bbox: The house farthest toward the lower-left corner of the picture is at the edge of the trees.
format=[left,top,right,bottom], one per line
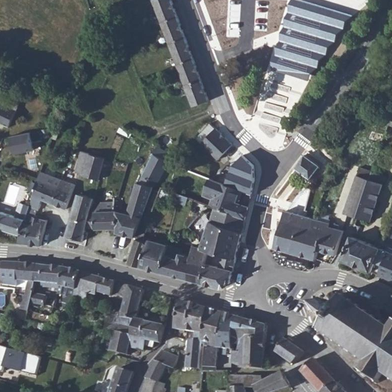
[0,346,38,374]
